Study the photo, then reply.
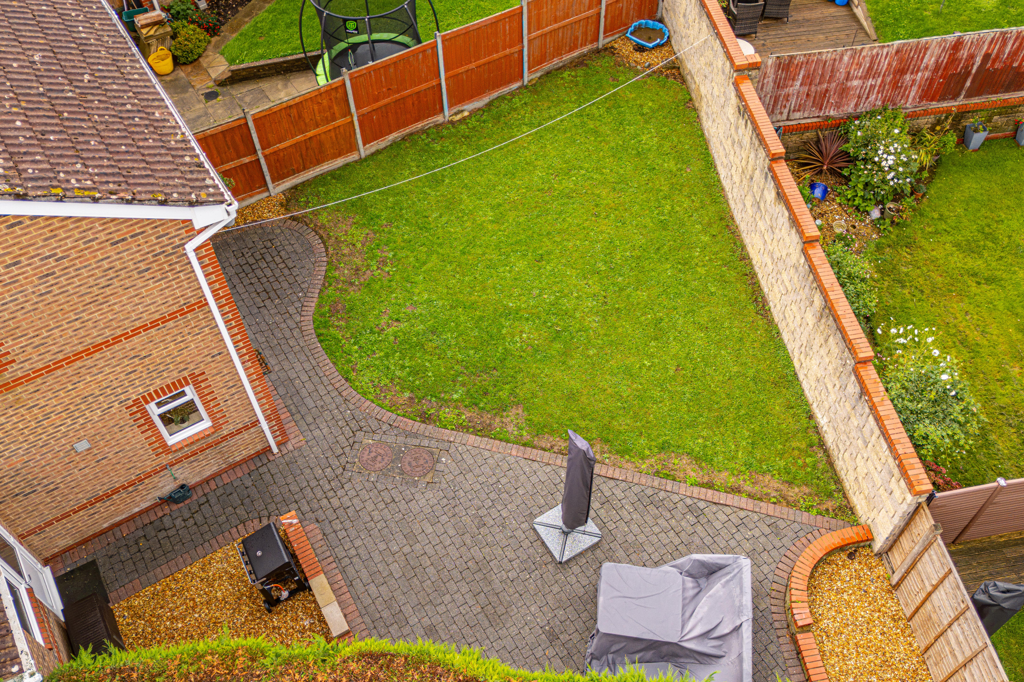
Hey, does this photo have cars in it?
No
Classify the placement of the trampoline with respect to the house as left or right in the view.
right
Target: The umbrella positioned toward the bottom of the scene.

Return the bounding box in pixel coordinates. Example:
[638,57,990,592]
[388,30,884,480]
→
[532,432,602,566]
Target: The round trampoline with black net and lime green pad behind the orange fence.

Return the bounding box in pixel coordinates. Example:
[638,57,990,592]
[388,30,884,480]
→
[307,0,430,87]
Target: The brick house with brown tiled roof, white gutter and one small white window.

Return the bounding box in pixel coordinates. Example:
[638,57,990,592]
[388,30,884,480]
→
[0,0,290,682]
